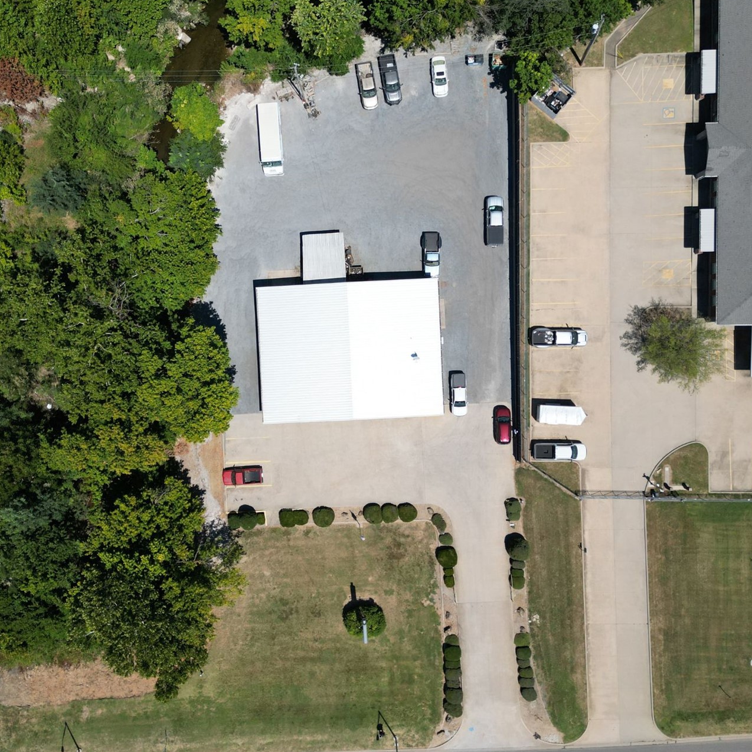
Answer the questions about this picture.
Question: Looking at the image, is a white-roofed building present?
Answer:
Yes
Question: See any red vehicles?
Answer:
Yes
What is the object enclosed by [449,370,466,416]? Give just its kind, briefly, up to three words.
vehicle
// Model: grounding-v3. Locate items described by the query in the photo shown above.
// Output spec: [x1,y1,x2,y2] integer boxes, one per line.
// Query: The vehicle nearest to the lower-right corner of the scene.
[533,441,584,461]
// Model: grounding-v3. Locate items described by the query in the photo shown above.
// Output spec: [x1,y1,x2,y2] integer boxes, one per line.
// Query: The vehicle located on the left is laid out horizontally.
[224,467,265,485]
